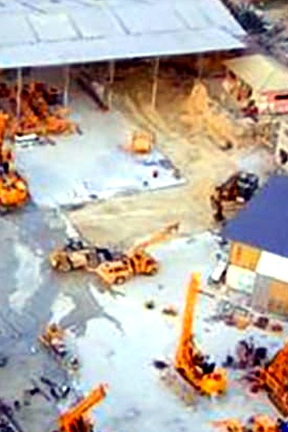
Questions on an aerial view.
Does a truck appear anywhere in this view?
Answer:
Yes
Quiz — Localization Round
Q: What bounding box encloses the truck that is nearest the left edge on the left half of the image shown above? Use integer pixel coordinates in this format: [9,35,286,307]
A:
[43,232,105,271]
